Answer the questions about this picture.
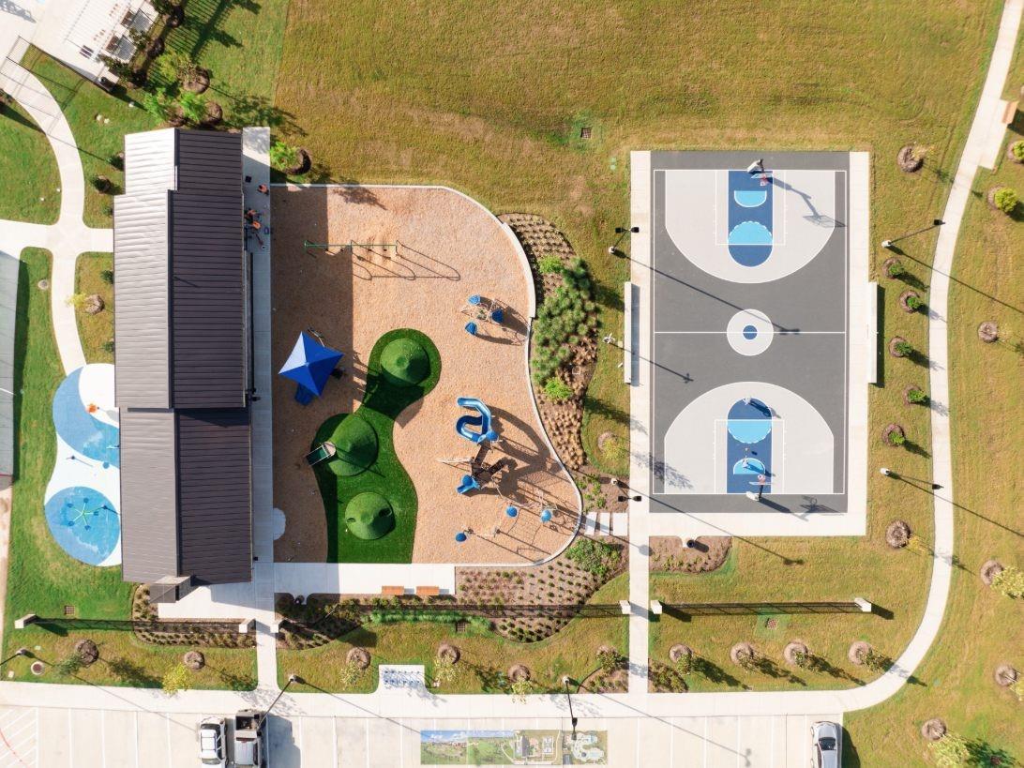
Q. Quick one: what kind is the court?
basketball court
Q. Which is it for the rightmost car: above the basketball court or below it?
below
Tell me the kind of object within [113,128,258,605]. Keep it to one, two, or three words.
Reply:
building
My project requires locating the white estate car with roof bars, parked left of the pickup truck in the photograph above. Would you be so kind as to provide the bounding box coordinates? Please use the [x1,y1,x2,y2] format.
[196,719,229,768]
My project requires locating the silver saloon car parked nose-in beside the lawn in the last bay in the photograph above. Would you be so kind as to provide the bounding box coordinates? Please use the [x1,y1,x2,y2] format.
[810,721,843,768]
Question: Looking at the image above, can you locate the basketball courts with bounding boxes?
[630,150,869,536]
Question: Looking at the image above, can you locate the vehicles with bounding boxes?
[810,721,843,768]
[196,719,229,768]
[233,712,267,768]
